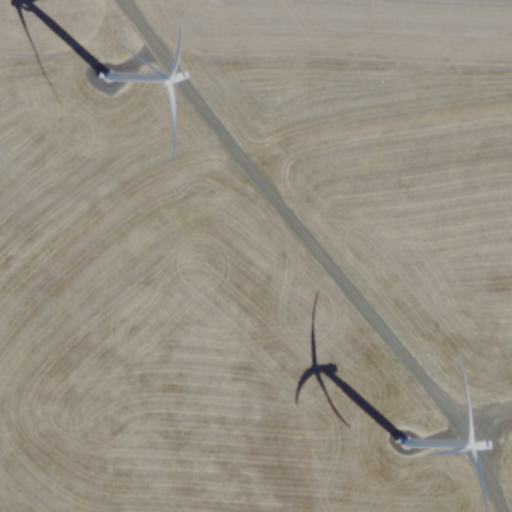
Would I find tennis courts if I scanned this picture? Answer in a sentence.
No, there is no tennis court in the image.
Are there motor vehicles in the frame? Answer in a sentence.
No, the frame has no motor vehicle in it.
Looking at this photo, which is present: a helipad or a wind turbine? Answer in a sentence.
Visible in the photo is a wind turbine.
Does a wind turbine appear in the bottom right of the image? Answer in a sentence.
Yes, looking in the bottom right of the image, one can make out a wind turbine.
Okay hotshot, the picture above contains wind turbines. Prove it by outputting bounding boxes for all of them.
[400,356,491,512]
[102,21,190,159]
